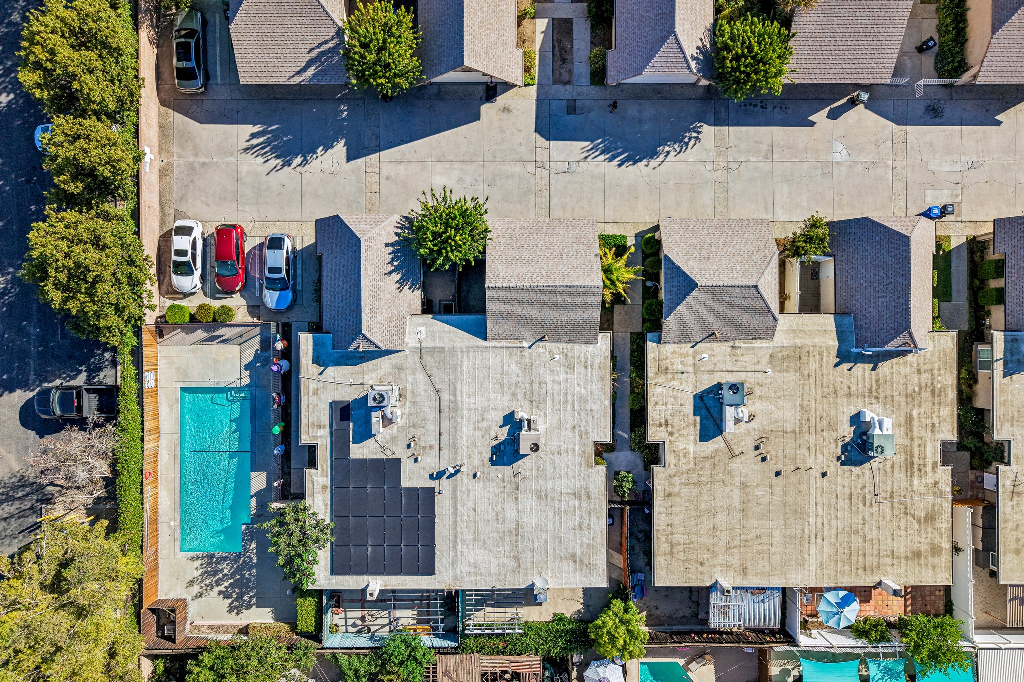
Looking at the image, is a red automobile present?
Yes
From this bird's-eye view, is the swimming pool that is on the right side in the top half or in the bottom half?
bottom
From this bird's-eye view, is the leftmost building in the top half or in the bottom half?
top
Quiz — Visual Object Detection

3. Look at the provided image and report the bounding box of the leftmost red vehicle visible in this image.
[210,224,248,293]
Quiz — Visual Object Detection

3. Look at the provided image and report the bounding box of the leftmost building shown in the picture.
[228,0,353,85]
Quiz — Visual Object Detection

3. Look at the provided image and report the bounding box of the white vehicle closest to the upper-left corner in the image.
[166,220,206,296]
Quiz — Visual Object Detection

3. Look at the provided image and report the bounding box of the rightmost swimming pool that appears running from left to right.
[640,662,689,682]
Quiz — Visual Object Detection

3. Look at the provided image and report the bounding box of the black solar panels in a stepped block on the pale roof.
[332,401,437,575]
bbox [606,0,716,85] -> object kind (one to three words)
building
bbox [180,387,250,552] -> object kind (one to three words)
swimming pool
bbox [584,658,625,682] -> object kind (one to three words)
umbrella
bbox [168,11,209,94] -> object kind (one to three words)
car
